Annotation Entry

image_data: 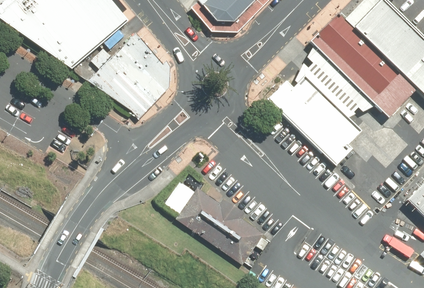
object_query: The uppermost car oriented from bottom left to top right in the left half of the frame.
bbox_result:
[153,144,168,158]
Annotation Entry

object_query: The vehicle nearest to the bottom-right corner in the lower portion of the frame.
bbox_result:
[409,261,424,274]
